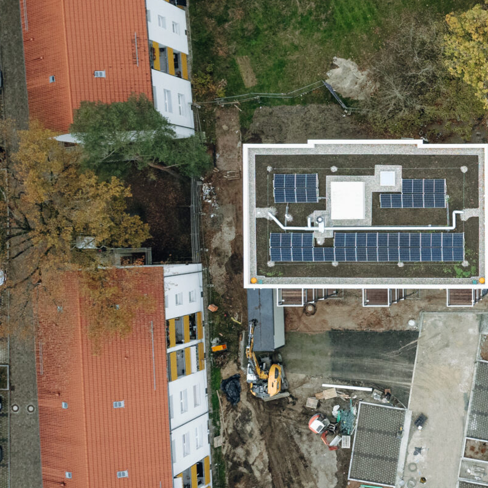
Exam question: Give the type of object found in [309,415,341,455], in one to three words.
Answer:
work vehicle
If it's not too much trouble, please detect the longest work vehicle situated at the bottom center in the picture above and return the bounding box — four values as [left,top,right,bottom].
[237,320,287,398]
